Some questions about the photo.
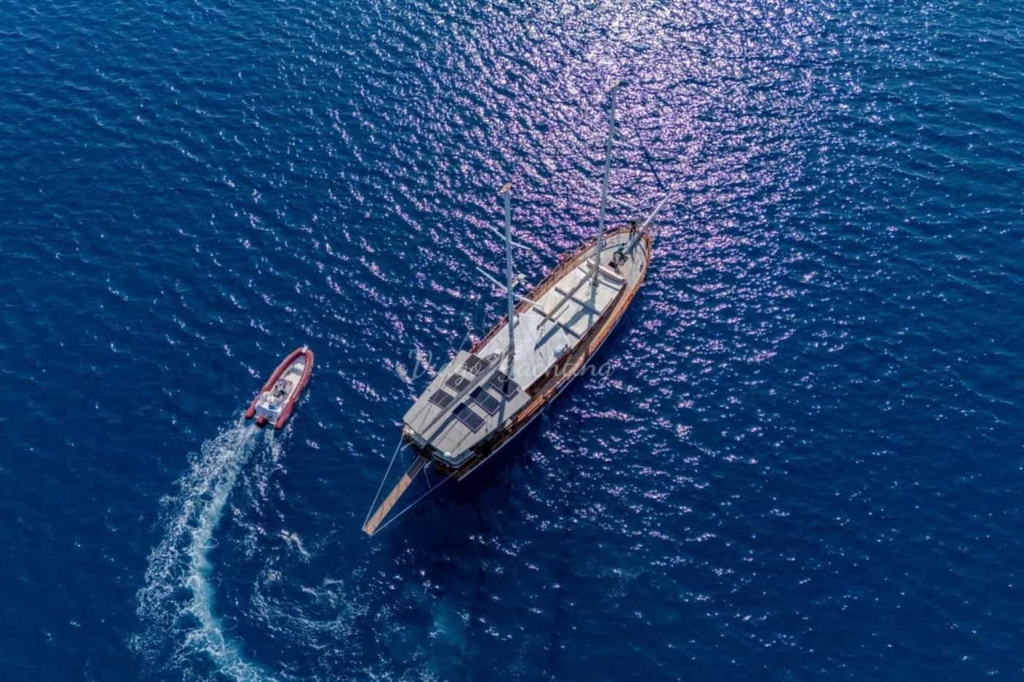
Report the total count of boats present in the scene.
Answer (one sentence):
Altogether the scene contains 2 boats.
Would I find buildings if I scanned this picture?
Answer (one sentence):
No, the picture doesn't show any building.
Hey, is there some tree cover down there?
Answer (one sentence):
No, there is no tree cover in the image.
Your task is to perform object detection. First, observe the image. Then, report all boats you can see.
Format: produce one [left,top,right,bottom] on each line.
[247,343,312,429]
[360,78,668,539]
